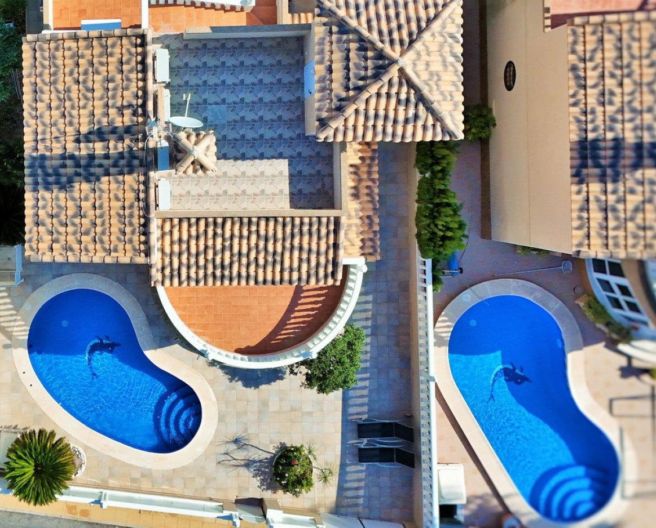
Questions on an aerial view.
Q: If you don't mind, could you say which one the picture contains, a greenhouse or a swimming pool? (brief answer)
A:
swimming pool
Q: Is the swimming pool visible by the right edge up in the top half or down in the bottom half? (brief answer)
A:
bottom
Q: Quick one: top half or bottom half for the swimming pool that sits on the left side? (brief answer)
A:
bottom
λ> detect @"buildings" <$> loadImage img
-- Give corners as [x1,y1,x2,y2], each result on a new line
[484,0,656,361]
[22,0,470,368]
